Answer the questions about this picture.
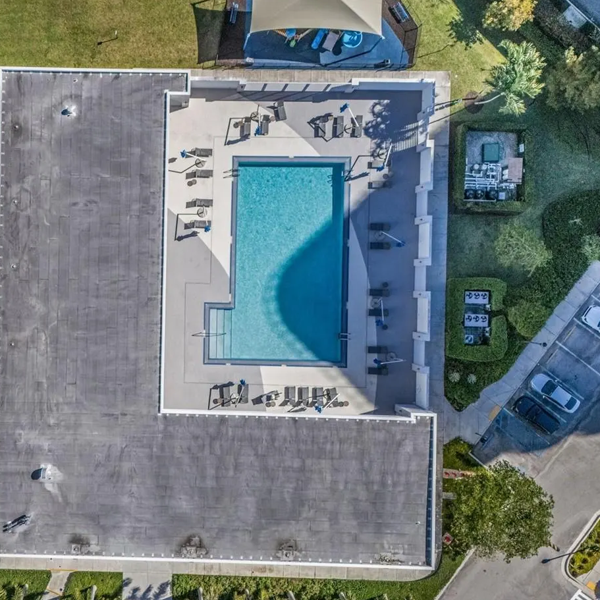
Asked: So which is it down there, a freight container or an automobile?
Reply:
automobile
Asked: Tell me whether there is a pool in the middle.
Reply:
Yes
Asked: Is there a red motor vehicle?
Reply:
No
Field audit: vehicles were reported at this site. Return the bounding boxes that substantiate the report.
[510,393,564,436]
[579,303,600,332]
[529,372,583,416]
